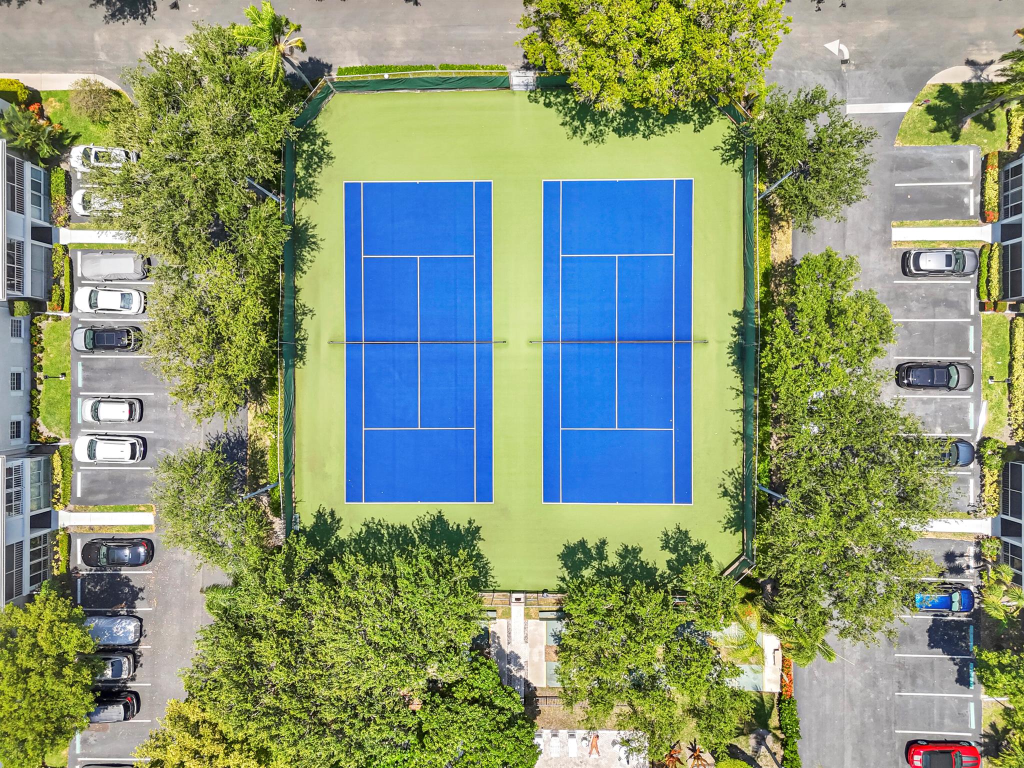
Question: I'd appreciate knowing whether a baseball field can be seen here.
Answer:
No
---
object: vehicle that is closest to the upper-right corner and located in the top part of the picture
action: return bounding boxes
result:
[904,246,975,278]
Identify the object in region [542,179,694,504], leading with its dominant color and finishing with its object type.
blue tennis court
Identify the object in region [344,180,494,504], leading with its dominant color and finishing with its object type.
blue tennis court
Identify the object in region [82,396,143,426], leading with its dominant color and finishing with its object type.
white car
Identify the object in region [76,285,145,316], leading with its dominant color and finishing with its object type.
white car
